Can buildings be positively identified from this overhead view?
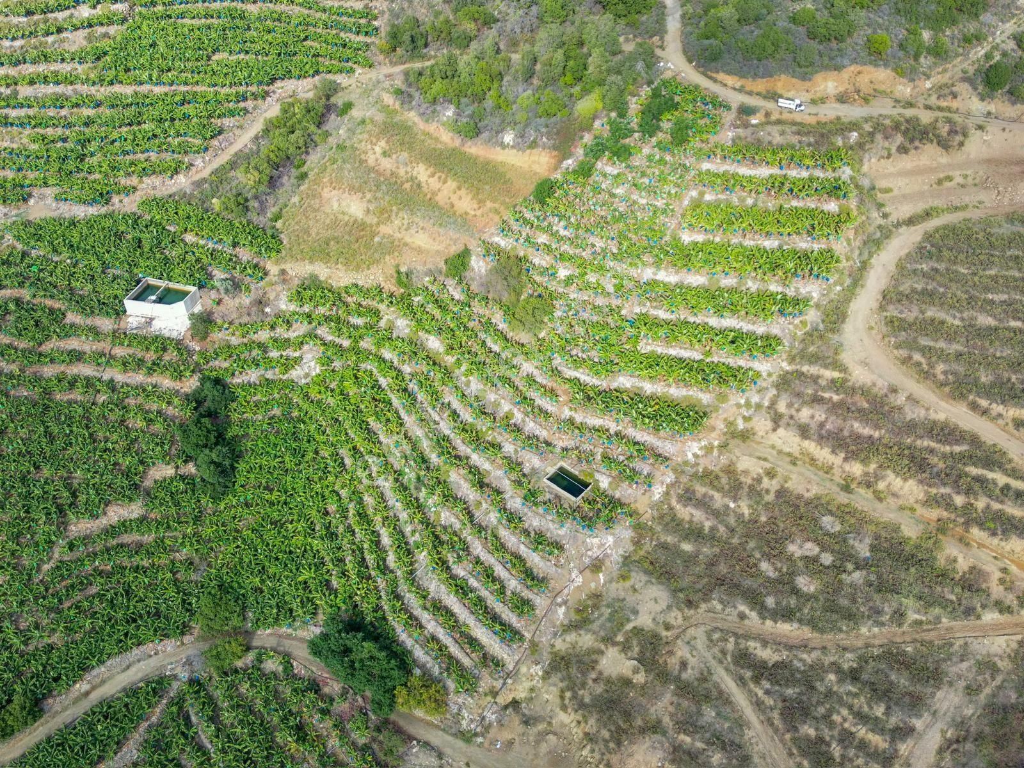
No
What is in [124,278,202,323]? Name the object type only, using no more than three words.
pond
